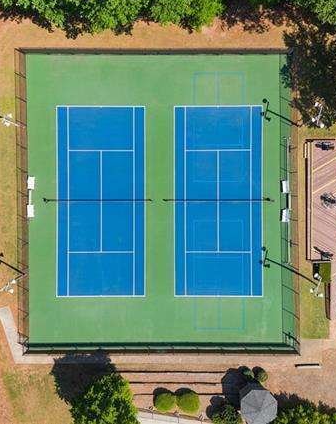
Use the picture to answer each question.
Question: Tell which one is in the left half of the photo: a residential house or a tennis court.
tennis court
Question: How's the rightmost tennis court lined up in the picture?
vertically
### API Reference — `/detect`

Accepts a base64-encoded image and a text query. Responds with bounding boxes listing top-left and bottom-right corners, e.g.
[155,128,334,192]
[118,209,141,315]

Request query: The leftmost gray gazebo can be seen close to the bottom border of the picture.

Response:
[238,382,276,424]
